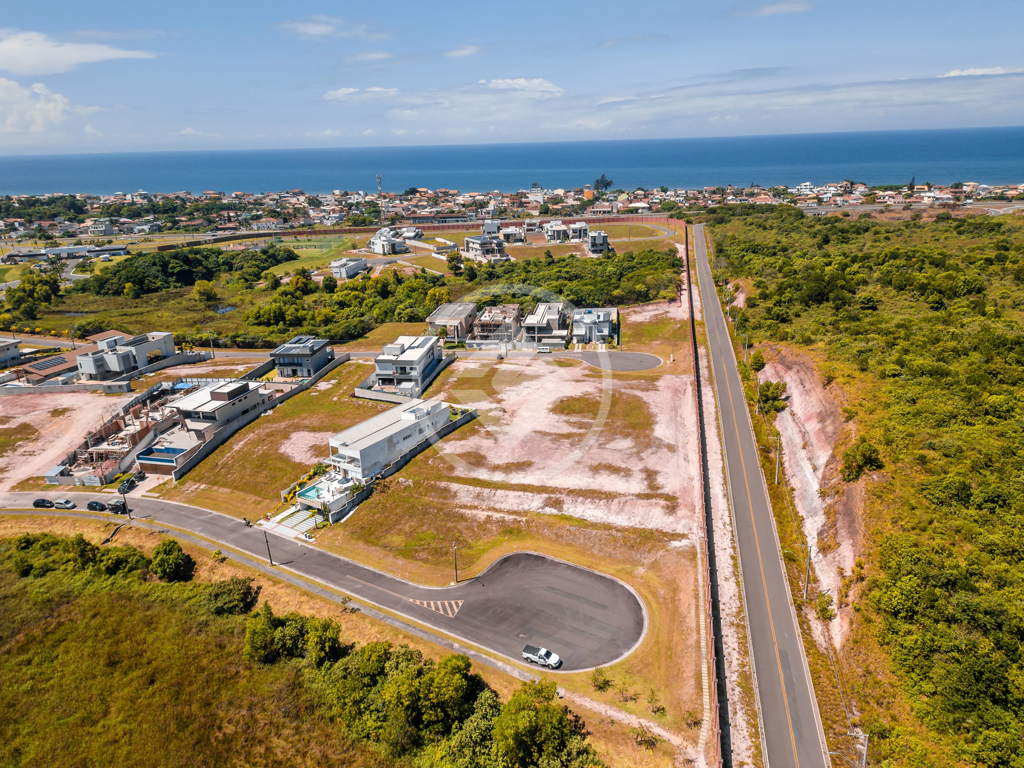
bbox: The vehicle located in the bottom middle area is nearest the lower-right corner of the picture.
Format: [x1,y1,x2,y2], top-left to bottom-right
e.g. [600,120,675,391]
[522,643,563,668]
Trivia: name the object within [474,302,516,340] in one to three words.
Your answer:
house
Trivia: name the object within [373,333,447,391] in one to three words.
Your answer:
house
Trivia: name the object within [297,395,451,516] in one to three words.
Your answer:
building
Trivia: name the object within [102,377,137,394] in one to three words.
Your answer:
shed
